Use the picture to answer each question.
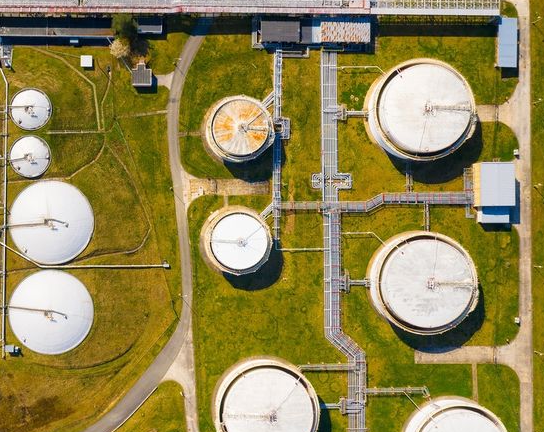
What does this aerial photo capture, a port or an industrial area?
industrial area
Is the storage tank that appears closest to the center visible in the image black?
No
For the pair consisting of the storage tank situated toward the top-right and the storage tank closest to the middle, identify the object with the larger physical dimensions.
the storage tank situated toward the top-right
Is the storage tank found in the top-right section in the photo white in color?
Yes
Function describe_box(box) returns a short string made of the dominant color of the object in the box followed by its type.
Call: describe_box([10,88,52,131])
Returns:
white storage tank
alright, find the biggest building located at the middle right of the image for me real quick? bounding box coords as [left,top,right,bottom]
[472,162,516,207]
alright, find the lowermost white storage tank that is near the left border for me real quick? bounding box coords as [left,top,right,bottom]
[8,269,94,355]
